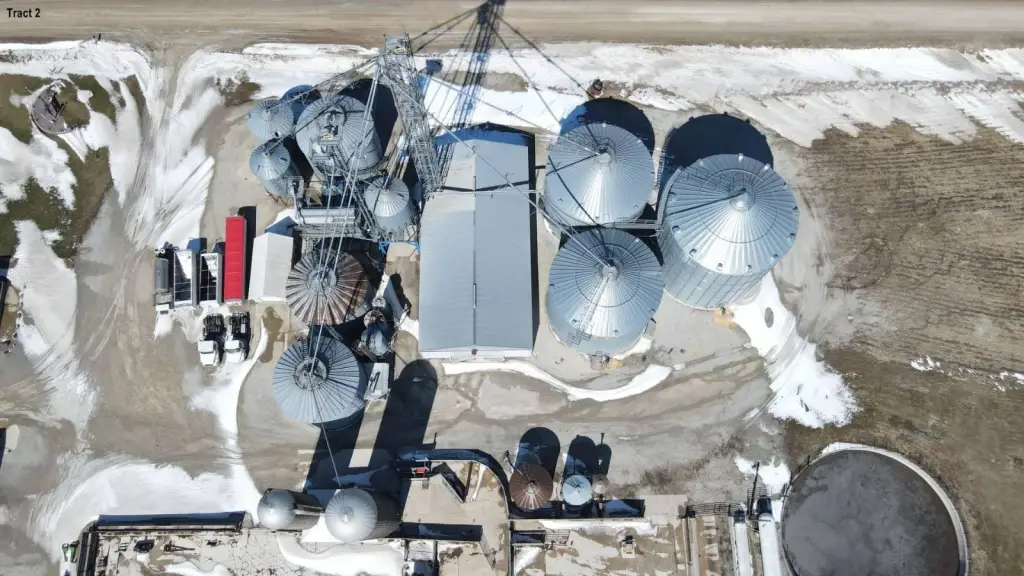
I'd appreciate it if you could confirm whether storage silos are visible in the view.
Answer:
Yes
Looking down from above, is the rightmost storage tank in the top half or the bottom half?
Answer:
bottom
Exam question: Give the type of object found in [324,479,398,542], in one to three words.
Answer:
silo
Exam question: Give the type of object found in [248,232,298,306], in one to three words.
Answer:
shed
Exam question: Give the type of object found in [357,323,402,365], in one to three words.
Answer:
storage tank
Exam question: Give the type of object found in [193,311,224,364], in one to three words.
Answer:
truck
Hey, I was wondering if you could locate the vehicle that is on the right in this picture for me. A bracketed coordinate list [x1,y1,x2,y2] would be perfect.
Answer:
[618,533,639,570]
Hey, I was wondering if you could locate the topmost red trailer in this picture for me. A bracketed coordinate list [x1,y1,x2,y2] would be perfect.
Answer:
[223,217,252,306]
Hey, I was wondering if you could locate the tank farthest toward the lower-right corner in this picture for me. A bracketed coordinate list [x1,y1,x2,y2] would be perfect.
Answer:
[777,450,975,576]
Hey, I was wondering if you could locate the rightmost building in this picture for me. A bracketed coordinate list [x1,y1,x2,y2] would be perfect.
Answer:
[420,141,534,357]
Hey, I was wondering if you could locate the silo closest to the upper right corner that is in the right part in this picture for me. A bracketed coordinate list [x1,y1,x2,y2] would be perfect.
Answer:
[645,154,799,318]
